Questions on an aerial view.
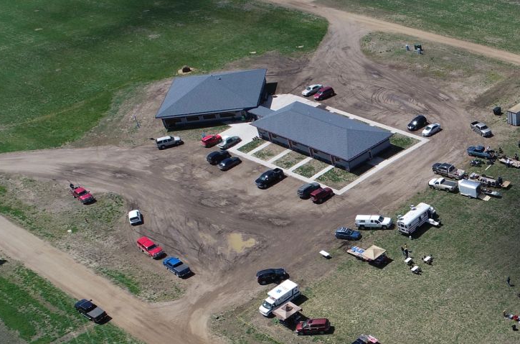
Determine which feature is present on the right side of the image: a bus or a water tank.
bus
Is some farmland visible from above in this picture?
Yes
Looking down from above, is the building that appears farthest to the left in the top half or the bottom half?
top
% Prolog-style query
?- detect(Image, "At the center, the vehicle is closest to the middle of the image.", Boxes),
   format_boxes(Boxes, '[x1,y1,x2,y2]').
[254,168,286,187]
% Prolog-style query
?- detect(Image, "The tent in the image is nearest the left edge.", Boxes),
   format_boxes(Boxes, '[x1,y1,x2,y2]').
[271,301,304,328]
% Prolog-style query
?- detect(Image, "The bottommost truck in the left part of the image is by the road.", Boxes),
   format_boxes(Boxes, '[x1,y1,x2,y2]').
[74,303,109,325]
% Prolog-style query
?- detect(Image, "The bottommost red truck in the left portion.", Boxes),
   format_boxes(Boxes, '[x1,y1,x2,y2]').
[133,234,165,258]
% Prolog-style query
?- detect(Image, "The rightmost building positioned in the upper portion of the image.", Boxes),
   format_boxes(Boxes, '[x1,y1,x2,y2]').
[250,102,397,171]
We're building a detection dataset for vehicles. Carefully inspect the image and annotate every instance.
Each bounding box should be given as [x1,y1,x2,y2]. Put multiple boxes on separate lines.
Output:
[333,229,362,241]
[467,121,493,137]
[406,115,429,130]
[162,260,193,278]
[295,184,323,198]
[397,202,436,234]
[74,303,109,325]
[254,168,286,187]
[154,136,183,148]
[420,124,443,137]
[294,315,333,335]
[67,186,93,203]
[301,85,324,97]
[259,276,301,314]
[217,158,243,170]
[133,234,165,258]
[199,132,224,146]
[354,216,392,232]
[313,87,335,100]
[308,189,336,203]
[253,269,290,286]
[427,178,456,194]
[467,147,494,159]
[206,149,232,164]
[127,211,142,226]
[435,166,468,182]
[217,137,242,148]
